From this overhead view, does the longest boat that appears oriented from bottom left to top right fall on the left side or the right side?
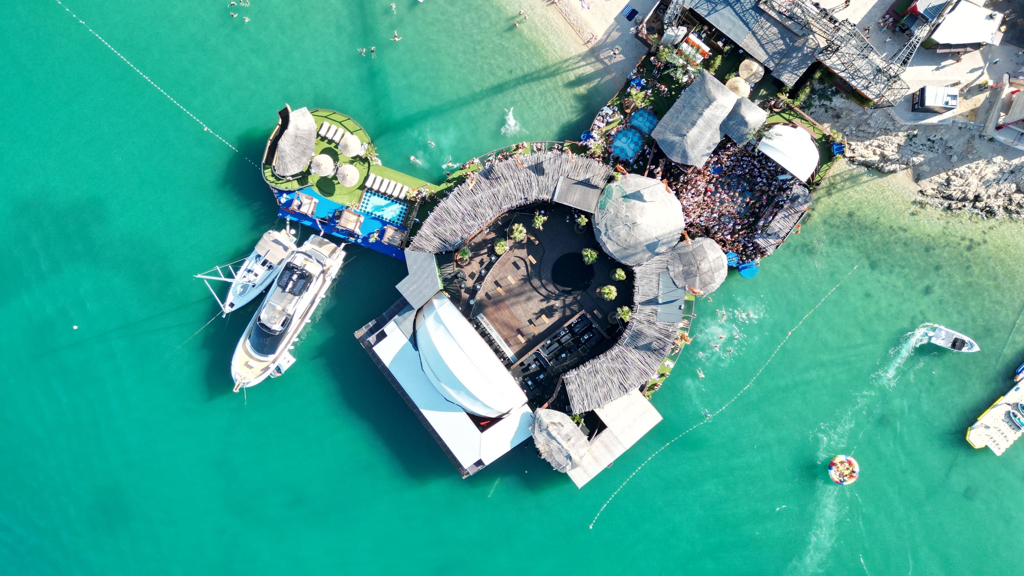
left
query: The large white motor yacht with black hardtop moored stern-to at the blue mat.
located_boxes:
[229,231,350,398]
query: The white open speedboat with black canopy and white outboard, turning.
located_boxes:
[928,327,981,352]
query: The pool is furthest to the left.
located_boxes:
[357,186,412,227]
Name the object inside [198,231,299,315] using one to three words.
boat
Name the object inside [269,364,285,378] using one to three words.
boat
